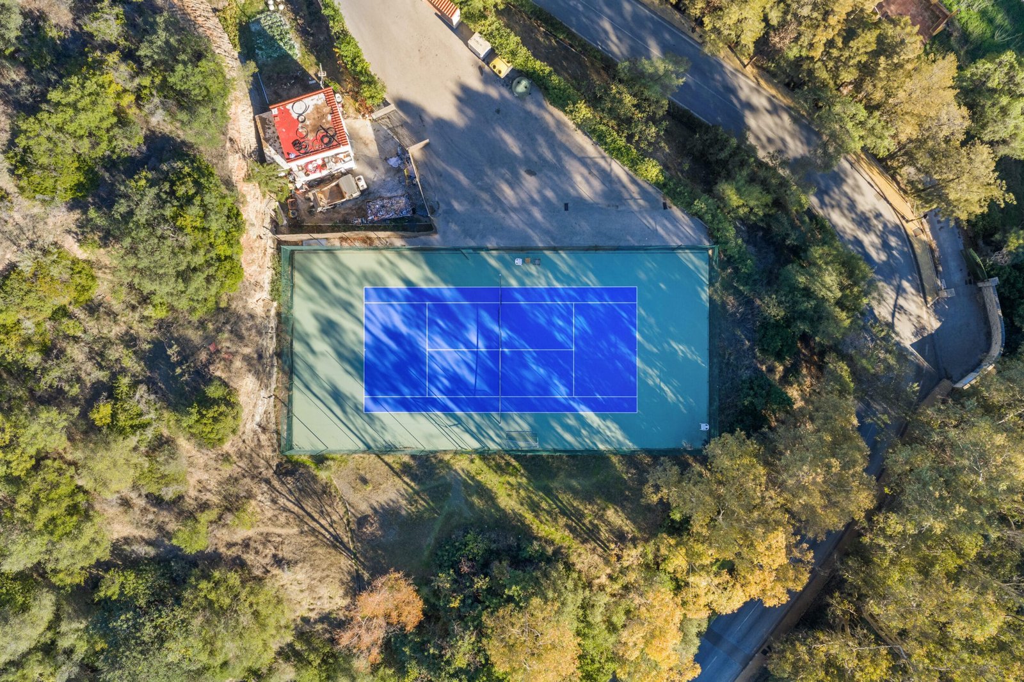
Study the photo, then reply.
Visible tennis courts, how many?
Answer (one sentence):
In total, there is 1 tennis court in the scene.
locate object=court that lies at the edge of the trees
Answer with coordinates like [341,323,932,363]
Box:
[291,249,710,451]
